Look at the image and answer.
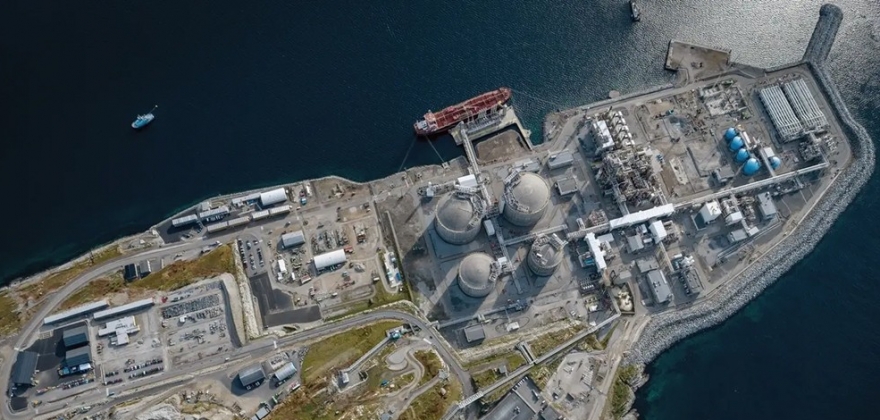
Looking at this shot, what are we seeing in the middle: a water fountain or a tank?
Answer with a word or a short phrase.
tank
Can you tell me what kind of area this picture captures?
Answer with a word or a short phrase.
port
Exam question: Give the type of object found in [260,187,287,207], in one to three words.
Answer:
building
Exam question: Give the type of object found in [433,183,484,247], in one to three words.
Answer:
storage tank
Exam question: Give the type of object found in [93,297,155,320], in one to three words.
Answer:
shed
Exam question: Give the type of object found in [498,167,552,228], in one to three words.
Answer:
storage tank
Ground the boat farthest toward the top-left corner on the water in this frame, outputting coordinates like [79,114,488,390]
[131,113,155,128]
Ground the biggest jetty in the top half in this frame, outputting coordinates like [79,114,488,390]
[449,106,531,147]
